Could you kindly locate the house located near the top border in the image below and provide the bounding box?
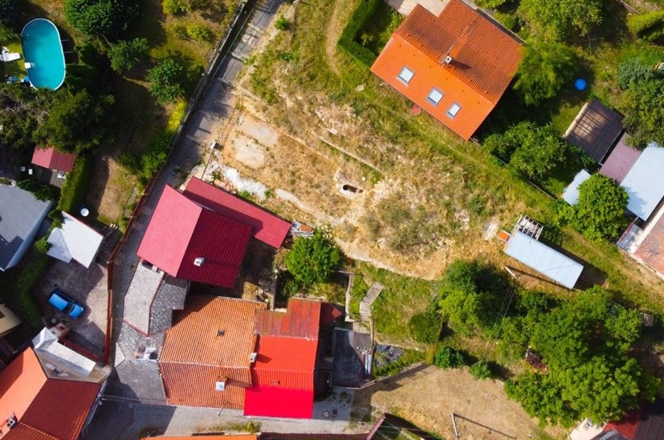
[370,0,526,142]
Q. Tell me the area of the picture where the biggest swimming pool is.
top left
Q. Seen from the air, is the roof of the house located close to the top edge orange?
Yes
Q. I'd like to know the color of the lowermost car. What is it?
blue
